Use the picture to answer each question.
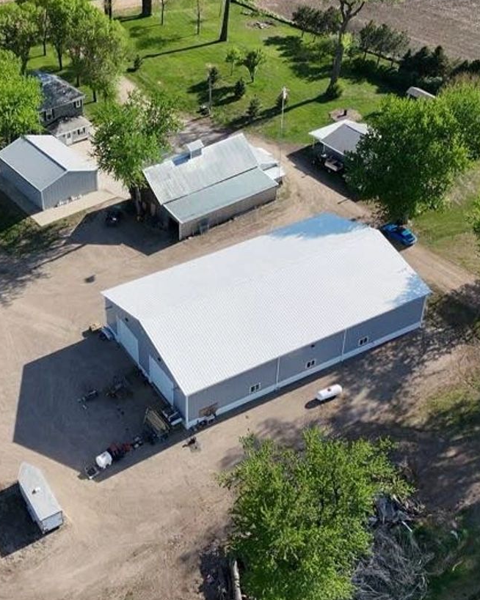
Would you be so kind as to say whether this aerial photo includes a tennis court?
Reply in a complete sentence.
No, I find no tennis court anywhere in the image.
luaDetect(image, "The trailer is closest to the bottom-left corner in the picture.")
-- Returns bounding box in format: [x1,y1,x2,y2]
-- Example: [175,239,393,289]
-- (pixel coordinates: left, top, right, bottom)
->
[17,463,65,539]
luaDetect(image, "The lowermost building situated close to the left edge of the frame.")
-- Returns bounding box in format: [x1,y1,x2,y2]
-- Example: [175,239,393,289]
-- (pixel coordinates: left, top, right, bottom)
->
[0,135,100,211]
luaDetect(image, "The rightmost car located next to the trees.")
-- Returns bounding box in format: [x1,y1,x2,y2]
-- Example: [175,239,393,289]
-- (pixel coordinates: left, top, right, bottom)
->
[380,222,418,243]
